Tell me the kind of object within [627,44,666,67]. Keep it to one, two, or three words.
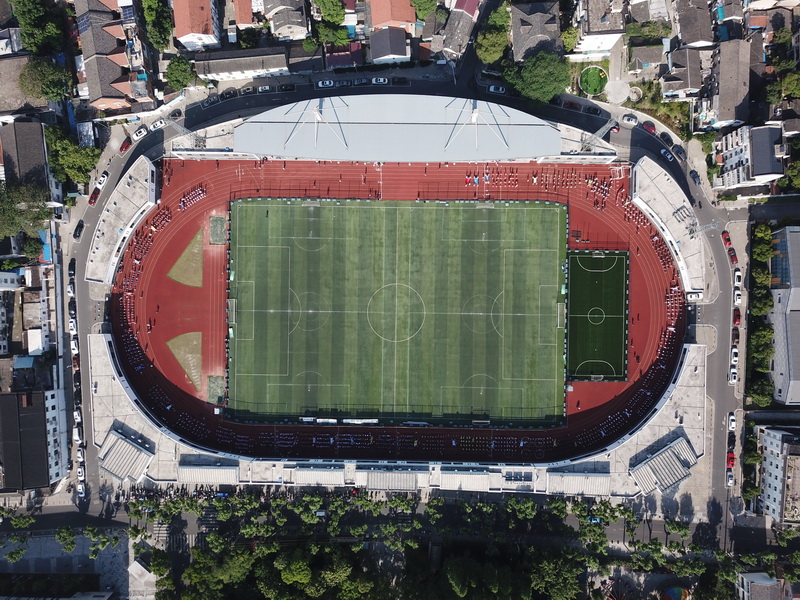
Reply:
house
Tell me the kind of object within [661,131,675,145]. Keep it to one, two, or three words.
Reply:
vehicle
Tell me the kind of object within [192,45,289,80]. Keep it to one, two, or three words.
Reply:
building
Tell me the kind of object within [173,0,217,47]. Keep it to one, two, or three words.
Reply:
house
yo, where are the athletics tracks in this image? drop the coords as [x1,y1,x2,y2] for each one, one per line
[107,156,689,463]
